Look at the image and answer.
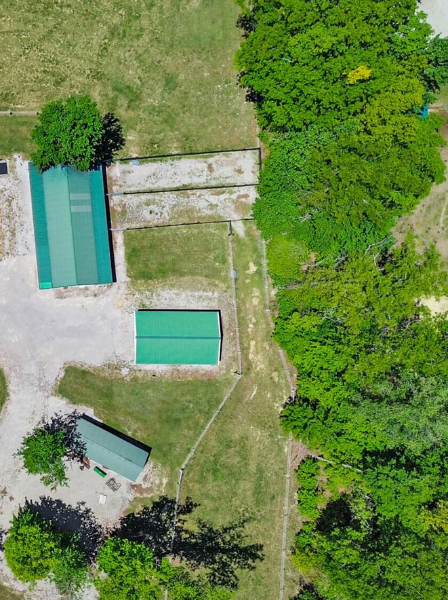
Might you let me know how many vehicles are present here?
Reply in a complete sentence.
The photo contains no vehicles.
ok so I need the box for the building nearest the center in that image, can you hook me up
[133,308,222,368]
